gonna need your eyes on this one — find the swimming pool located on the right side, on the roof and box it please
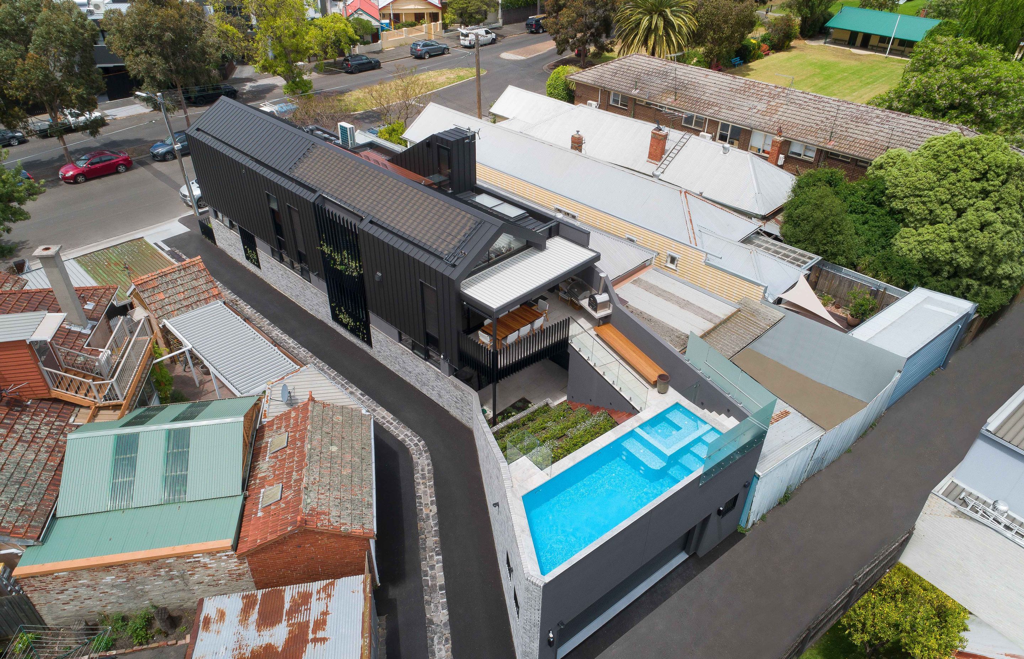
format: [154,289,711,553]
[522,404,737,516]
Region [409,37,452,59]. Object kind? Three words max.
car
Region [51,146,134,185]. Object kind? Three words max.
car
